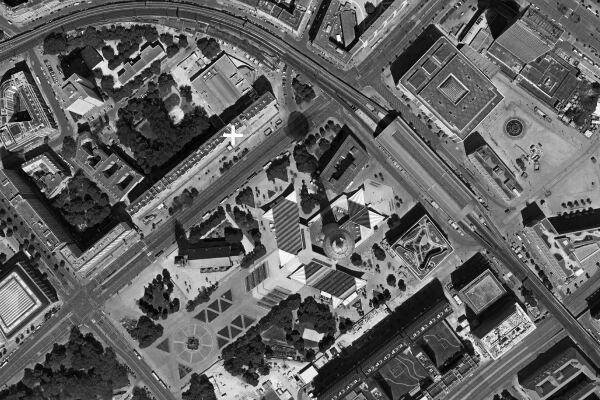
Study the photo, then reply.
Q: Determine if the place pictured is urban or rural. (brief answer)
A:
urban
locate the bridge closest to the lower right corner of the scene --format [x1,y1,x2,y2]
[457,204,600,372]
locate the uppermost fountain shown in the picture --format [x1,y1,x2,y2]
[504,118,523,136]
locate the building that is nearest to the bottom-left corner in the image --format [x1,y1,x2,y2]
[0,262,59,339]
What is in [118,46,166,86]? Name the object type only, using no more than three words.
building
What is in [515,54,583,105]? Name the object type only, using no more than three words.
building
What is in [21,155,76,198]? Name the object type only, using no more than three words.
house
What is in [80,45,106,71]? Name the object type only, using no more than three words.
house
